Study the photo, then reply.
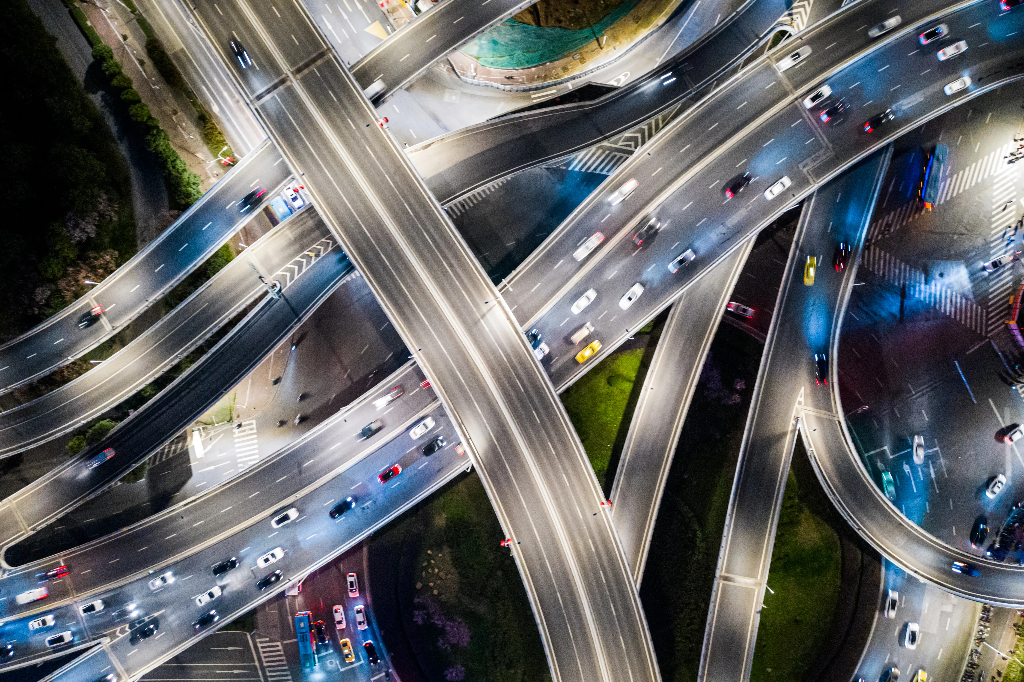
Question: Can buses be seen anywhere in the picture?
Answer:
Yes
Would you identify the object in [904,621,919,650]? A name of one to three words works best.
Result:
car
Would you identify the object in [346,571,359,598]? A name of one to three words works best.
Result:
vehicle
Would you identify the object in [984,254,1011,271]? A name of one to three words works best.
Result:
car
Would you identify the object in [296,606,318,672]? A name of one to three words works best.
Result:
bus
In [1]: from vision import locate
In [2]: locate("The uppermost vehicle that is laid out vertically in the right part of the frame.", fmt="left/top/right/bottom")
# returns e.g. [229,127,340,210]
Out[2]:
[916,142,949,214]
